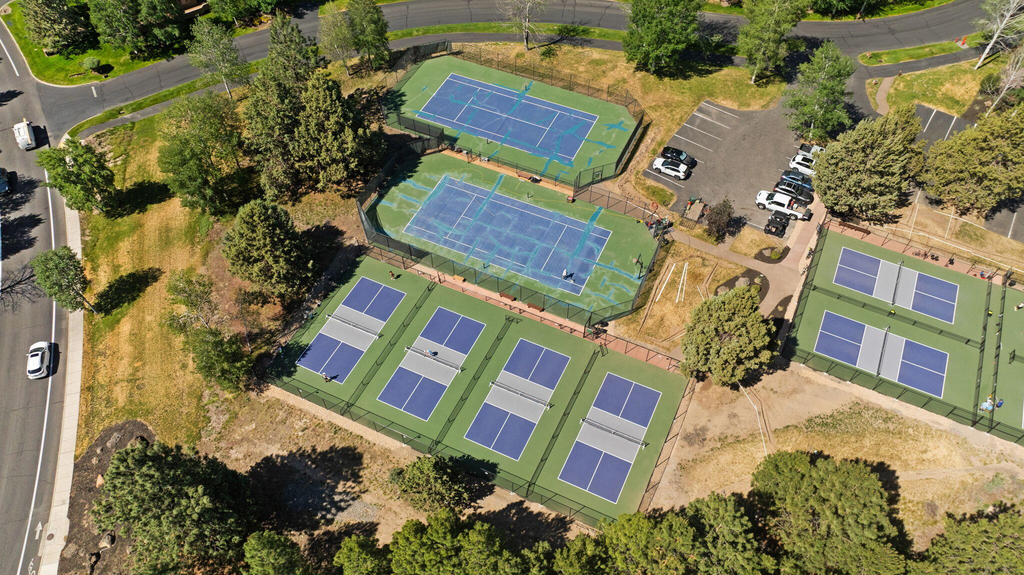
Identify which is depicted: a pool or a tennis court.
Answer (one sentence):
I can see a tennis court in this picture.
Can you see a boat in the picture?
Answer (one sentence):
No, the frame has no boat in it.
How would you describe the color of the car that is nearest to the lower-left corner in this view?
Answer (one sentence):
The car that is nearest to the lower-left corner is white.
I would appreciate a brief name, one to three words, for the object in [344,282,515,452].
sports court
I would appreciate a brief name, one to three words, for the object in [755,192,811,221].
truck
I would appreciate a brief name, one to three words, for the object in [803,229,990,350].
sports court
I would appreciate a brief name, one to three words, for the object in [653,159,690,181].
car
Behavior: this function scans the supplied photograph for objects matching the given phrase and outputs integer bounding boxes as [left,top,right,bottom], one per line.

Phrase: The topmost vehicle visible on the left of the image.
[13,122,36,149]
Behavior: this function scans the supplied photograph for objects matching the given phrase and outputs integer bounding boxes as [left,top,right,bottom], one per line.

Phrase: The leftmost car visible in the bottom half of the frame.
[24,340,50,379]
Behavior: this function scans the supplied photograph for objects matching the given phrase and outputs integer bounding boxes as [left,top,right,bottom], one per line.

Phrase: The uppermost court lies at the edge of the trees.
[379,55,637,191]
